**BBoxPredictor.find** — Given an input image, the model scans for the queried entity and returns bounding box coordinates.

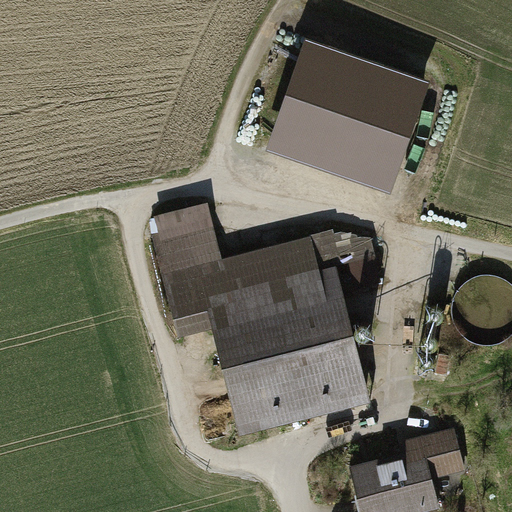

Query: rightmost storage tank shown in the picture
[451,274,512,346]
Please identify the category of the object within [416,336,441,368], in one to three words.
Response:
silo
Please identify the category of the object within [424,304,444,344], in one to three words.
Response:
silo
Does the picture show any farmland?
Yes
